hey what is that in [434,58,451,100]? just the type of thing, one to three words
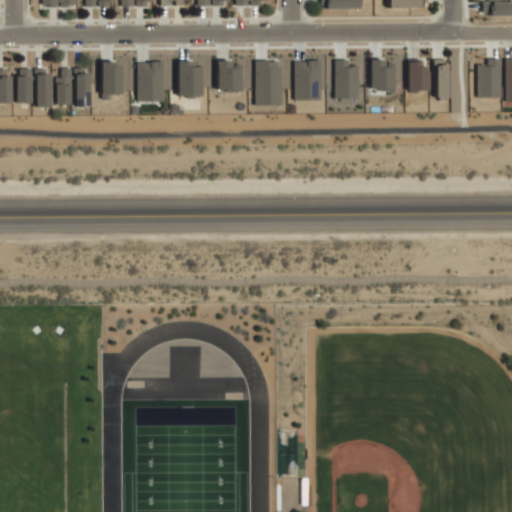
house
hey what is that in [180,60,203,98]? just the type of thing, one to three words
house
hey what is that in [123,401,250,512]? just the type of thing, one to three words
sports field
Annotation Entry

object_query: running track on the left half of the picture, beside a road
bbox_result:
[102,320,269,512]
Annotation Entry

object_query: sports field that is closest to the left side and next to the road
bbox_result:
[0,305,102,512]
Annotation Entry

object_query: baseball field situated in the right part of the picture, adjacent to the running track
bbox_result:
[306,327,512,512]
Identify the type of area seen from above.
sports ground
